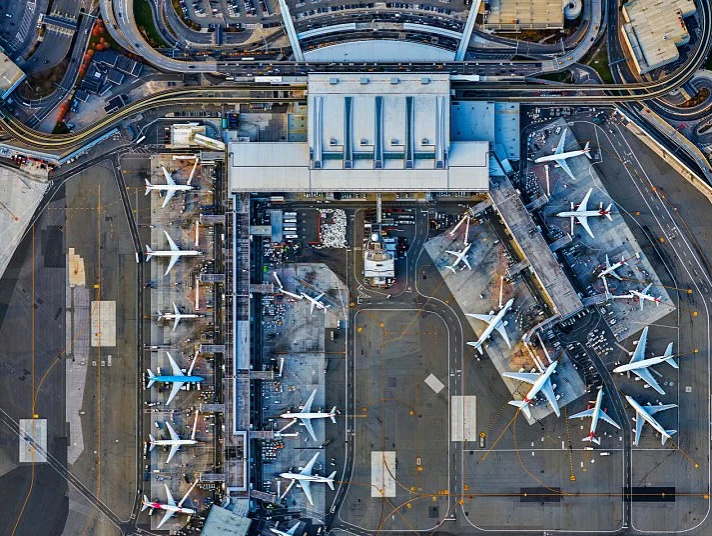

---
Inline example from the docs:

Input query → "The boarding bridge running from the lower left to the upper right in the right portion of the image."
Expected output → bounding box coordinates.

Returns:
[450,212,471,236]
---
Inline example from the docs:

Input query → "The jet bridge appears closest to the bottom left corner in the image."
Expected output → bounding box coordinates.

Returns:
[178,478,199,508]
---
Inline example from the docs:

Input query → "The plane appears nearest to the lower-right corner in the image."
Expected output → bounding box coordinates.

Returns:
[627,395,676,445]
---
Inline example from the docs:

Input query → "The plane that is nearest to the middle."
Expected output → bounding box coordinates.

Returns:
[302,291,332,314]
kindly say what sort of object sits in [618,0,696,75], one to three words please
building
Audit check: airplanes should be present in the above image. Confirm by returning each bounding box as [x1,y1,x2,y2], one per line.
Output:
[613,326,681,393]
[146,230,202,276]
[155,301,202,331]
[631,284,661,312]
[281,389,335,442]
[568,388,621,442]
[143,484,195,528]
[148,421,196,463]
[444,244,472,273]
[557,188,613,238]
[467,299,515,352]
[504,361,561,418]
[147,166,193,209]
[627,395,676,445]
[271,523,303,536]
[148,352,204,406]
[276,452,337,506]
[599,254,629,279]
[302,291,332,314]
[535,128,592,179]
